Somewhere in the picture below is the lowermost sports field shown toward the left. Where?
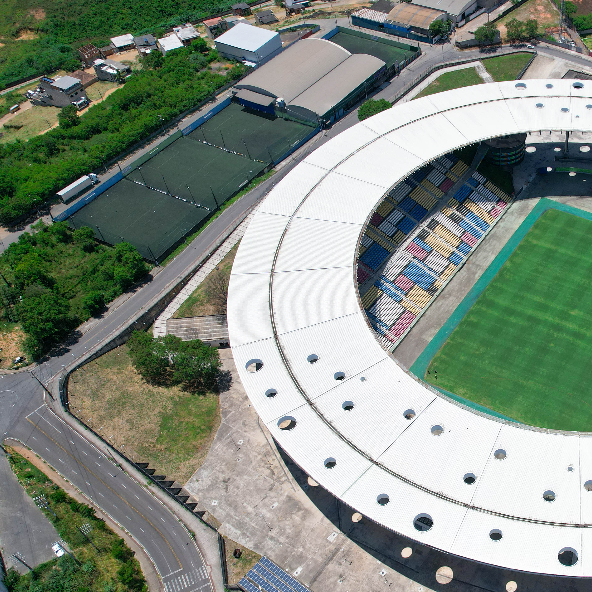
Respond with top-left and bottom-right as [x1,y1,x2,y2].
[60,177,212,261]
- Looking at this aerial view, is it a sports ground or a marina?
sports ground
